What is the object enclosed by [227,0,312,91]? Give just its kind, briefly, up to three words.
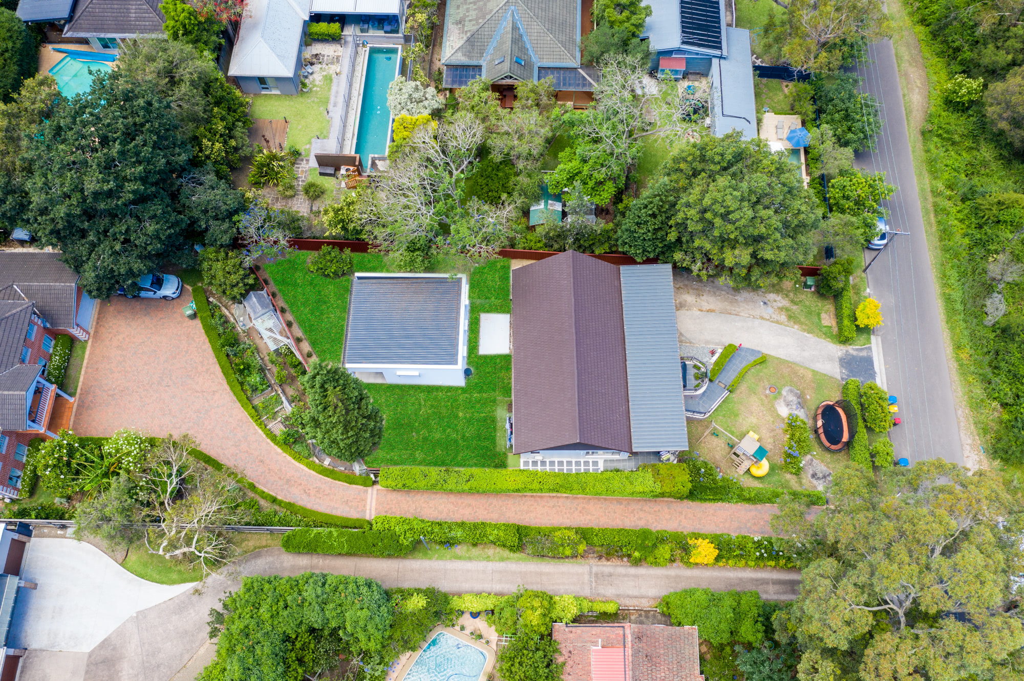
house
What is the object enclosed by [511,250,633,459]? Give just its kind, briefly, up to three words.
house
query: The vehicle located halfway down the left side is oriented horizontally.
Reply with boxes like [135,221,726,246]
[114,269,180,297]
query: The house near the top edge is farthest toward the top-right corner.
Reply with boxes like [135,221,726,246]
[641,0,759,158]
